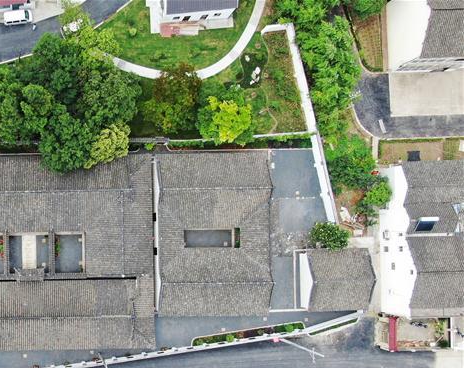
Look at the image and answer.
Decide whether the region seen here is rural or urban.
urban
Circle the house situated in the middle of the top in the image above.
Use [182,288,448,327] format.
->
[159,0,247,37]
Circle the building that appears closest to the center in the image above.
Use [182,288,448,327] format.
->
[153,152,277,316]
